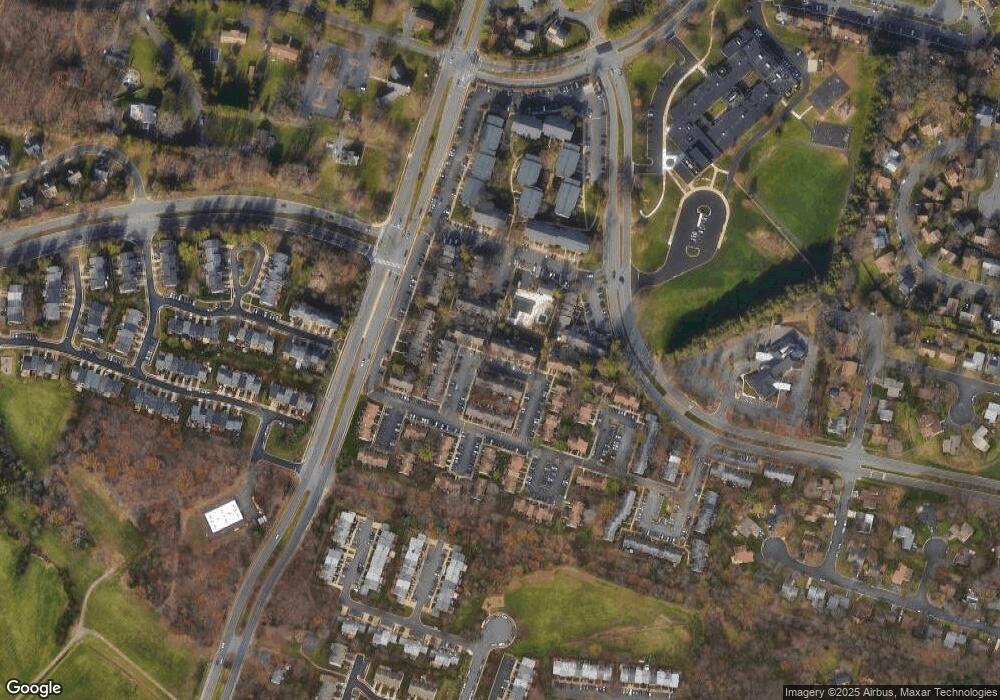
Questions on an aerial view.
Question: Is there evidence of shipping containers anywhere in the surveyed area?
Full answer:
No, there's no shipping container here.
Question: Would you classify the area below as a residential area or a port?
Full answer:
The area seen from above is a residential area.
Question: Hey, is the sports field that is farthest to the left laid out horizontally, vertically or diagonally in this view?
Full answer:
Seen from above, the sports field that is farthest to the left lies horizontally.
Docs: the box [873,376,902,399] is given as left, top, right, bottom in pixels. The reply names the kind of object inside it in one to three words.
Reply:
house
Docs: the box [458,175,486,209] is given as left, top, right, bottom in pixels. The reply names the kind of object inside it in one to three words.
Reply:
building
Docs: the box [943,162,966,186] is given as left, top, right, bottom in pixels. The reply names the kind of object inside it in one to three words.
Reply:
house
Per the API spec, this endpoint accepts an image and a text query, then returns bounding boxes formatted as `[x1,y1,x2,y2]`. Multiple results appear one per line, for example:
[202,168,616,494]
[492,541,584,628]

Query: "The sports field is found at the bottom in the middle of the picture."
[510,574,691,651]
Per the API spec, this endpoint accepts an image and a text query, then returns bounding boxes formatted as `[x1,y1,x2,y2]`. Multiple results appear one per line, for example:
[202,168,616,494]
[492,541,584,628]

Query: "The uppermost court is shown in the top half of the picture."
[810,73,851,113]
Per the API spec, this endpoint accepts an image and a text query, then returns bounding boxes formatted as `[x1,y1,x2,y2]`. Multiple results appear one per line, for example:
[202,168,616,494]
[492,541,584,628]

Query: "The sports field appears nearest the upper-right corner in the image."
[747,131,847,258]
